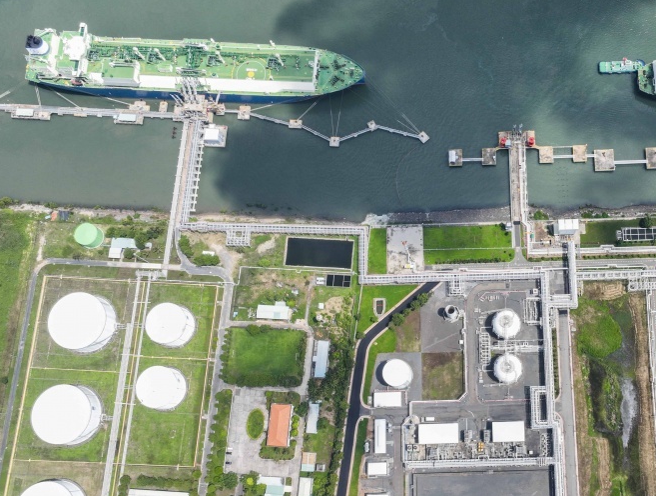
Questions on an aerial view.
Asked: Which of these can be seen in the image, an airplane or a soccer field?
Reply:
soccer field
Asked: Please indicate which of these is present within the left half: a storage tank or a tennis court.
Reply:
storage tank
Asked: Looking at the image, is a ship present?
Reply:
Yes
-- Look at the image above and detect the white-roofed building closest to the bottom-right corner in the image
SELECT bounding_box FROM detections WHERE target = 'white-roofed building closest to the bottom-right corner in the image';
[492,421,525,442]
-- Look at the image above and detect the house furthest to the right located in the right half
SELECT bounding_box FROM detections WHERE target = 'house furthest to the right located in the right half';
[557,220,579,235]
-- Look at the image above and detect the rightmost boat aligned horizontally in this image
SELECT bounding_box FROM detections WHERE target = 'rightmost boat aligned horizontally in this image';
[599,60,642,74]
